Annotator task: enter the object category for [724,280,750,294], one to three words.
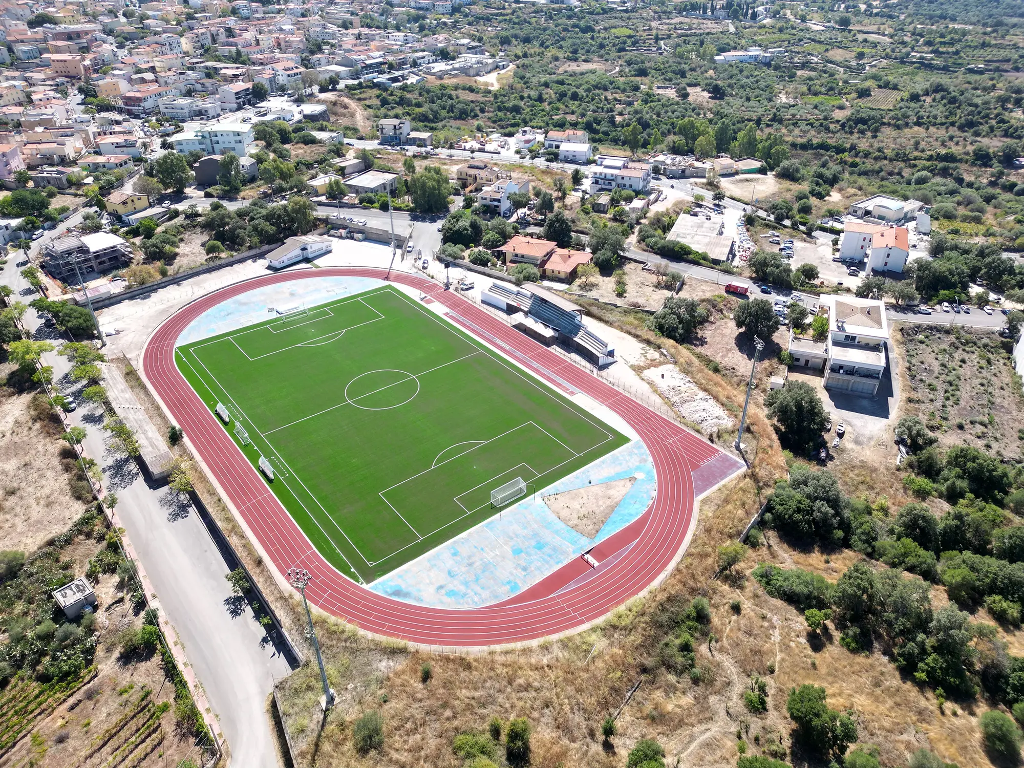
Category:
vehicle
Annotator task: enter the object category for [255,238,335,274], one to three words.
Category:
building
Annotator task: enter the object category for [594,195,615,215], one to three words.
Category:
shed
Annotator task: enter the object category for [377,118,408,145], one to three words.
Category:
house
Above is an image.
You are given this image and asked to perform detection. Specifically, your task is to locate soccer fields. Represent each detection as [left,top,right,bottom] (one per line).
[176,283,634,585]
